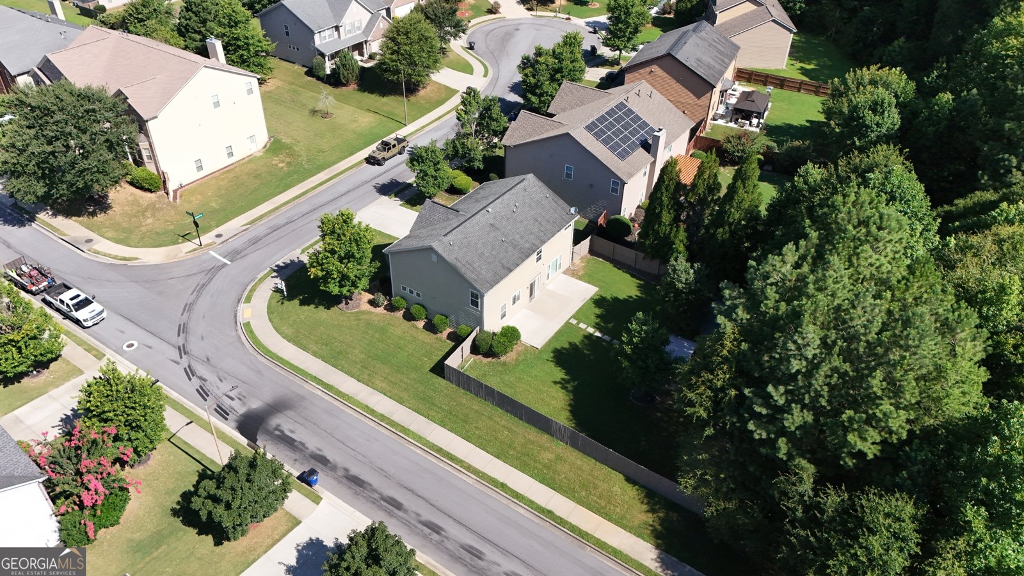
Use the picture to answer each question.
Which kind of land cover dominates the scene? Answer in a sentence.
The bulk of the photo consists of trees.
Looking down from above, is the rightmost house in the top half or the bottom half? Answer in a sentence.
It is in the top half that the rightmost house appears.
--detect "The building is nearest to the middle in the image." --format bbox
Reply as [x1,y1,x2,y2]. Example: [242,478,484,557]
[383,174,580,339]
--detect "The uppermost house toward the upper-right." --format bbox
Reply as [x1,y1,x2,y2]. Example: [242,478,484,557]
[703,0,798,68]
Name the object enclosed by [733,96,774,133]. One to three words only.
gazebo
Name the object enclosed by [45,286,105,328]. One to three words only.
truck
